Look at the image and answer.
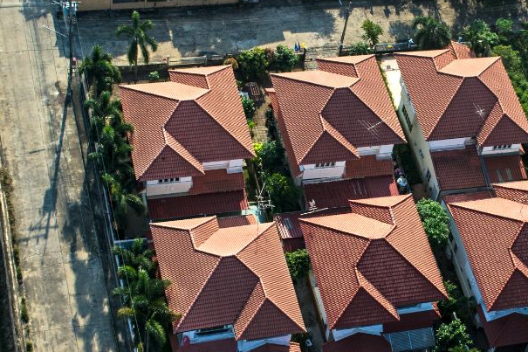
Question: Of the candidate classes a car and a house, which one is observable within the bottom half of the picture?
house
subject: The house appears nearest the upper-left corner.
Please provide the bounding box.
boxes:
[119,65,256,240]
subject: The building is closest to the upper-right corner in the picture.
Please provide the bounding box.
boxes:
[393,34,528,209]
